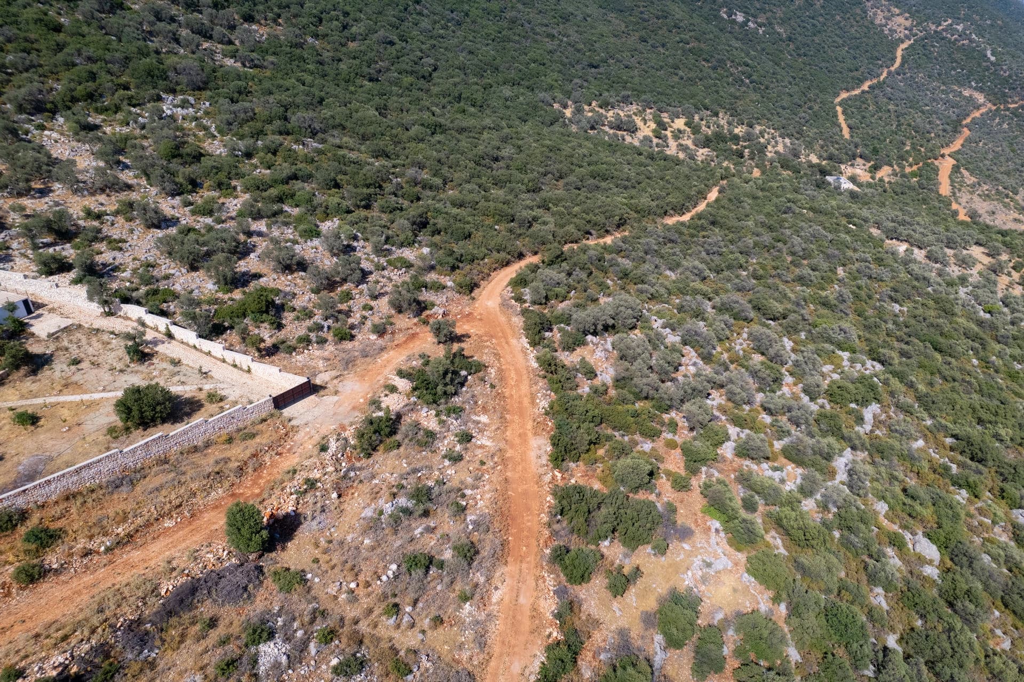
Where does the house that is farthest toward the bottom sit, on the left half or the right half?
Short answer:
left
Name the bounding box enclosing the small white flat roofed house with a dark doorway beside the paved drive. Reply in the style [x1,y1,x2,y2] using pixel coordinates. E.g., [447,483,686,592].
[0,283,33,323]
